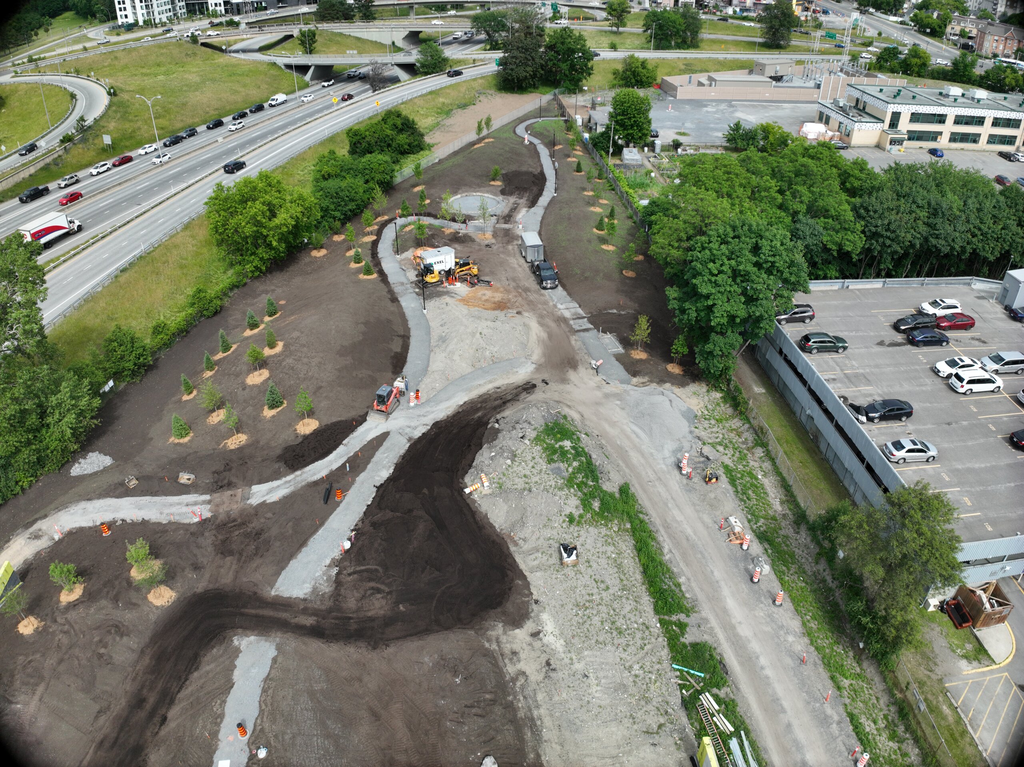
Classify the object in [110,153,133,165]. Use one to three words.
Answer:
vehicle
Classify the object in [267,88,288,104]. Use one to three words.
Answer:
vehicle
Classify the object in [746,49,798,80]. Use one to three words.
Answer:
shed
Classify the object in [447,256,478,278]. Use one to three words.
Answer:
work vehicle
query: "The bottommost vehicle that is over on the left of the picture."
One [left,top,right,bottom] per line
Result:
[369,386,404,422]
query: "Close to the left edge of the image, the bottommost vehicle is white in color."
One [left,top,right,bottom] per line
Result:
[19,214,80,248]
